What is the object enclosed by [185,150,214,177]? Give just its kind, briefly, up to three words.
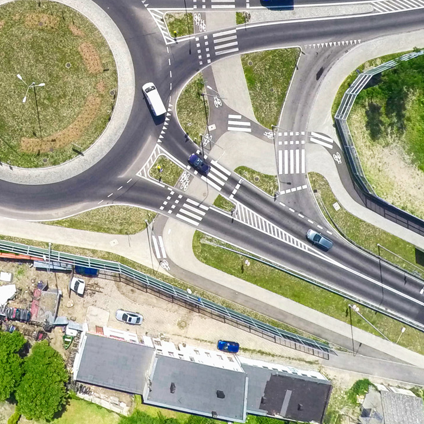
car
